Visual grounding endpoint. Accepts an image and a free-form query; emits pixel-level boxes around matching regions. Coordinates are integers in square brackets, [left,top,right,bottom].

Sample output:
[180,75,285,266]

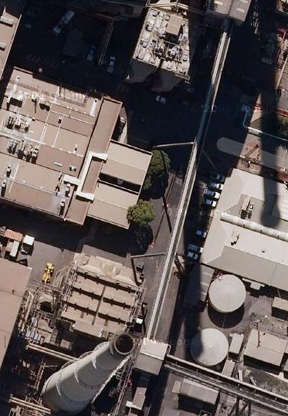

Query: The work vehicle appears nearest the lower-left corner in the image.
[43,260,55,282]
